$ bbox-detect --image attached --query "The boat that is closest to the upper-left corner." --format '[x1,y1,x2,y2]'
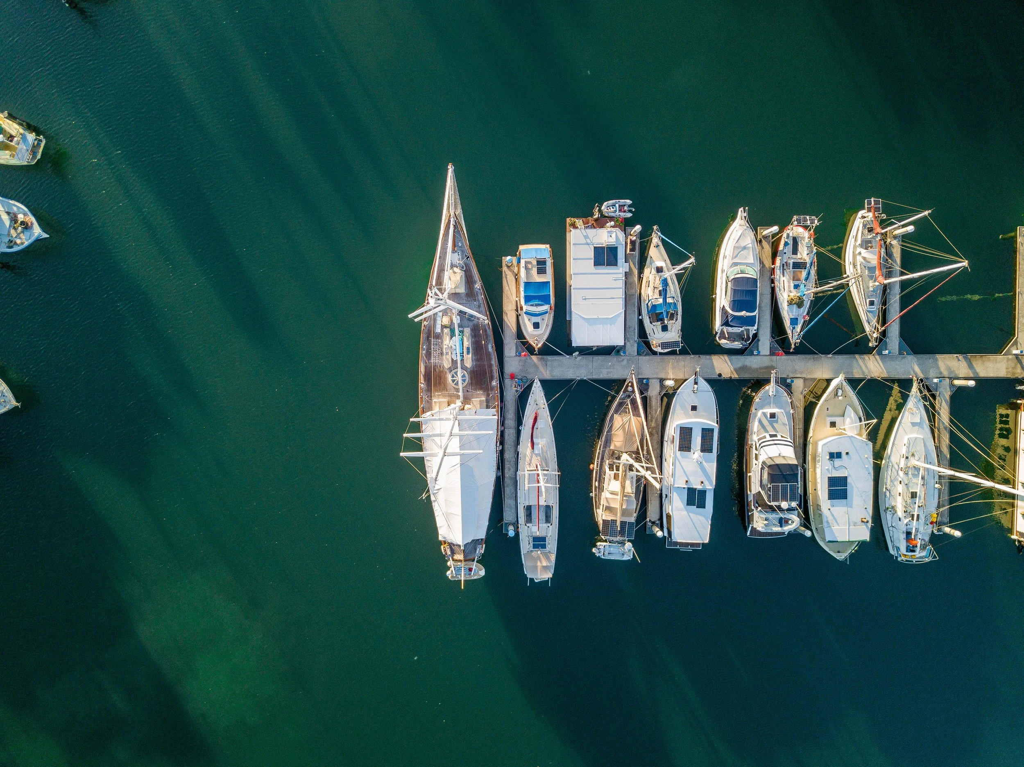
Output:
[0,112,48,165]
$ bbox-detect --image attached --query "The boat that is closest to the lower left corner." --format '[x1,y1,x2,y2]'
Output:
[0,374,22,414]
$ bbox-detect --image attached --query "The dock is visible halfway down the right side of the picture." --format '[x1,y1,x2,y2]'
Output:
[503,226,1024,534]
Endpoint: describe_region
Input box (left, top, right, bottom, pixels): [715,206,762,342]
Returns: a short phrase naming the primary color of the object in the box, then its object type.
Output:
white boat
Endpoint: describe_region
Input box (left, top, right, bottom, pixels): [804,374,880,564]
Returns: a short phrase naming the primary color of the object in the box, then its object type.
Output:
white boat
